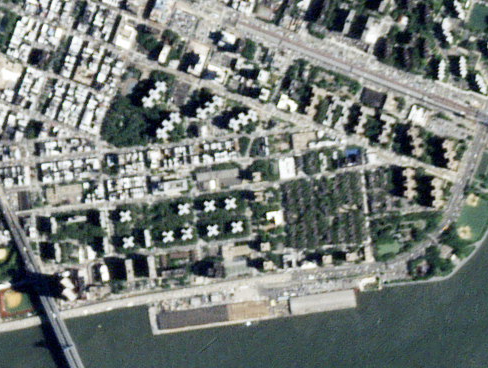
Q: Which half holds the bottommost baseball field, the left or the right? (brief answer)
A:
left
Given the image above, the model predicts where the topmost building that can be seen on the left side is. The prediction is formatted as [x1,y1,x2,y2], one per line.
[151,0,174,24]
